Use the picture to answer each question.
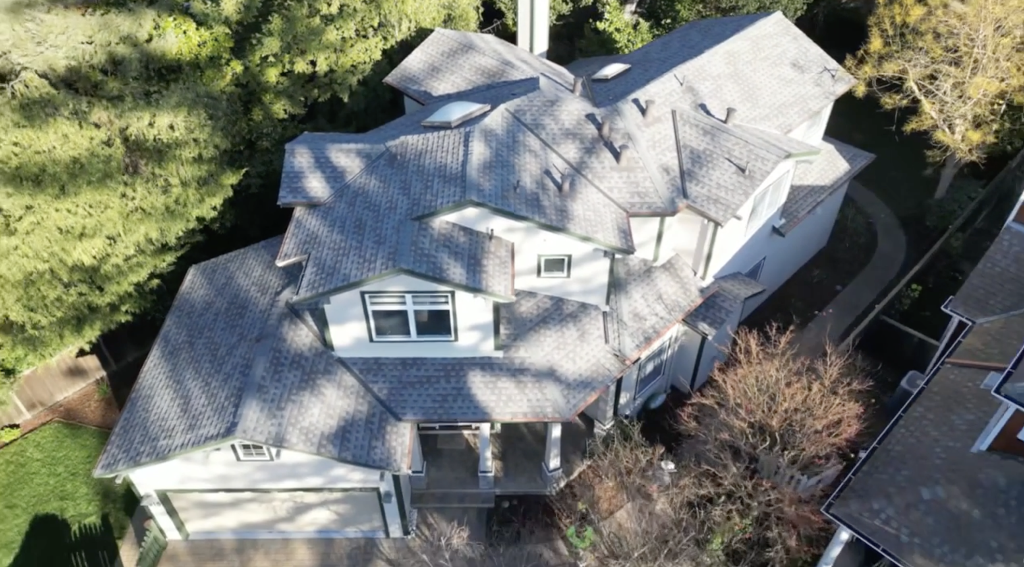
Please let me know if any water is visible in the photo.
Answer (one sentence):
No, no water is visible.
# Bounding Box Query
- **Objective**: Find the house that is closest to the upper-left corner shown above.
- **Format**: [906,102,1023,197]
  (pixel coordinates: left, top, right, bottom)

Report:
[92,0,876,539]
